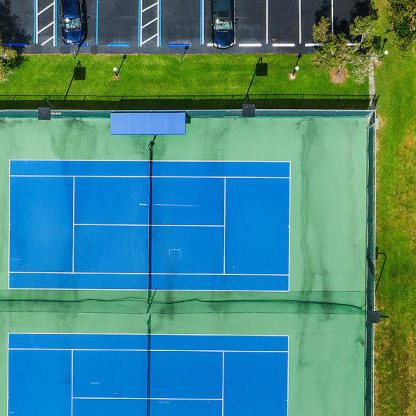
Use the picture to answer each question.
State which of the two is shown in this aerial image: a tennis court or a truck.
tennis court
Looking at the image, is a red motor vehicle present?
No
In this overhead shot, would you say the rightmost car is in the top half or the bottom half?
top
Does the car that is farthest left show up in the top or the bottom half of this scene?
top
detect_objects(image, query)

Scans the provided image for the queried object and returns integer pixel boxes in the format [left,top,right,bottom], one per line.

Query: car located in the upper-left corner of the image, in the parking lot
[58,0,85,45]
